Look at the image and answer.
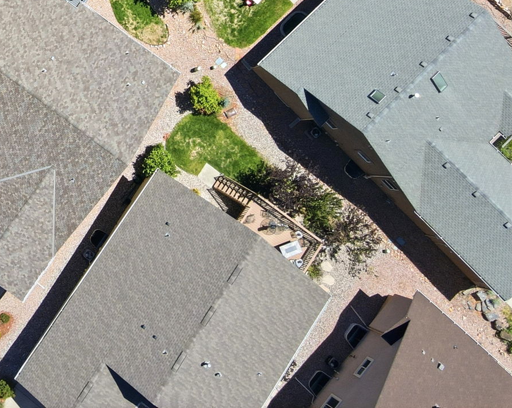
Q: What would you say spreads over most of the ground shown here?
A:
buildings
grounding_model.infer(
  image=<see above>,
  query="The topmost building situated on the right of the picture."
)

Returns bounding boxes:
[254,0,512,303]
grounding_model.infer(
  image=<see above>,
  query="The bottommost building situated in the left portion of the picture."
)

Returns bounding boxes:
[14,168,333,408]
